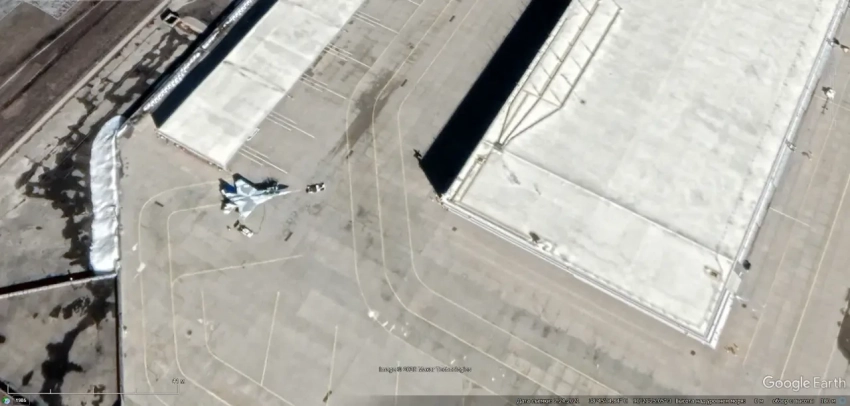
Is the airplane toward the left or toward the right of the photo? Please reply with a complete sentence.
The airplane appears in the left half of the scene.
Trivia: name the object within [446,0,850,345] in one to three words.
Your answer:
hangar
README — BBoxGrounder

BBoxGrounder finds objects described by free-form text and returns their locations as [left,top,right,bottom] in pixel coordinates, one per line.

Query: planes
[221,180,293,220]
